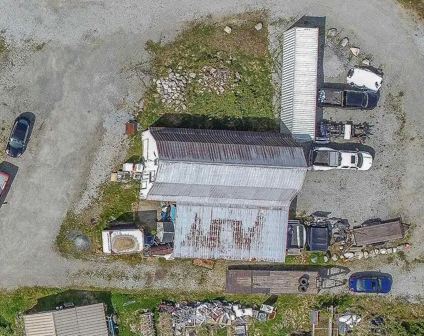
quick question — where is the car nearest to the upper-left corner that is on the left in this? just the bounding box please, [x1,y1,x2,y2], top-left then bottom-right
[5,115,32,159]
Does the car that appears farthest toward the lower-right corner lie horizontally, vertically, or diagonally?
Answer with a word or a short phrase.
horizontally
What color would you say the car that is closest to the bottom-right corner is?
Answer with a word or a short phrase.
blue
